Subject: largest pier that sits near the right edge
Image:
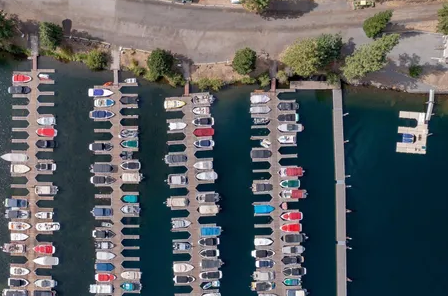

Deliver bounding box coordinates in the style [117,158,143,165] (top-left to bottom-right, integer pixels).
[395,111,429,154]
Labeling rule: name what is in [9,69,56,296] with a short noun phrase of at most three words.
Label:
pier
